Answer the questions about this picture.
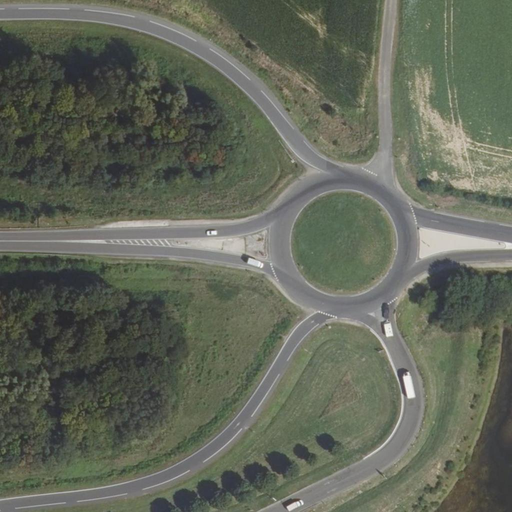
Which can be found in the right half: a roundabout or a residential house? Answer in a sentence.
It is a roundabout that can be seen in the right half.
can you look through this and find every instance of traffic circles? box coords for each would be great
[268,168,418,318]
